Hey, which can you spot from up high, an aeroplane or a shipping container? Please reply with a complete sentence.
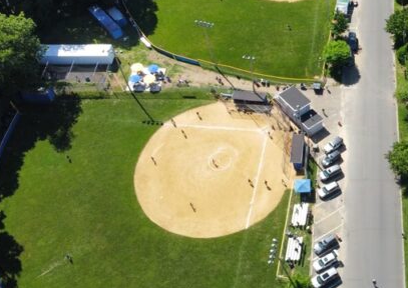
It is a shipping container that can be seen here.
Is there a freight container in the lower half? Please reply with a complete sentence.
No, I see no freight container in the lower half.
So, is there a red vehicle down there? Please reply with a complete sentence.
No, the frame has no red vehicle in it.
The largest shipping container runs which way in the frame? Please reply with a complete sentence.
Seen from above, the largest shipping container lies at an angle.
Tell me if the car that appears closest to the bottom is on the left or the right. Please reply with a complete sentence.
The car that appears closest to the bottom is on the right side of the image.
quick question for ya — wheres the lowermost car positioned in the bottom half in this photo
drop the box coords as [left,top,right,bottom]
[311,268,338,288]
